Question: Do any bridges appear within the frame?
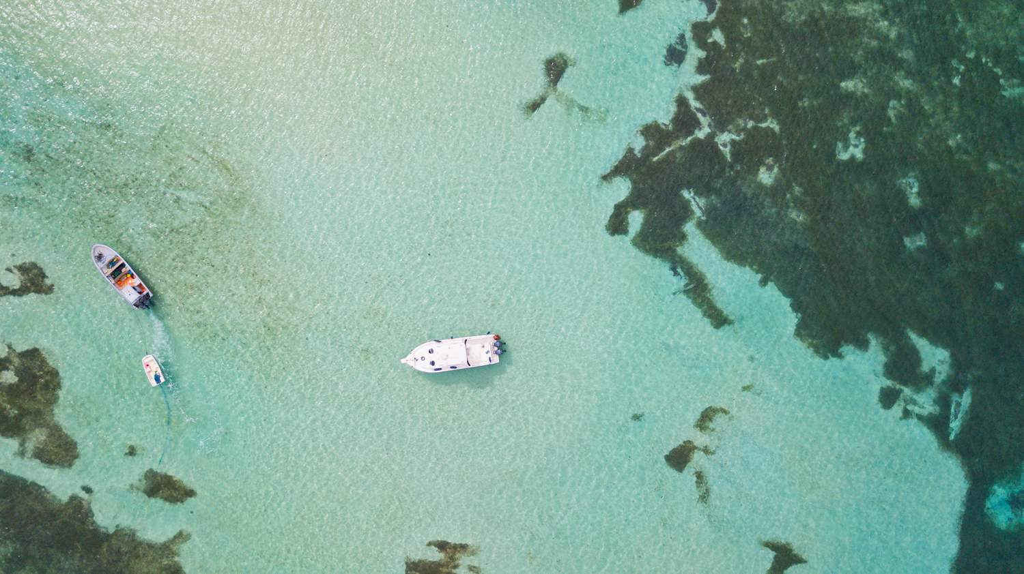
No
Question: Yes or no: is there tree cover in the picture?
No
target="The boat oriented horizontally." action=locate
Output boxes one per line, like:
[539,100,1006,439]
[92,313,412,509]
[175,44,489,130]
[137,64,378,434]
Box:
[401,335,510,373]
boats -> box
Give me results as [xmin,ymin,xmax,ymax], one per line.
[142,354,166,386]
[401,335,510,373]
[90,243,154,314]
